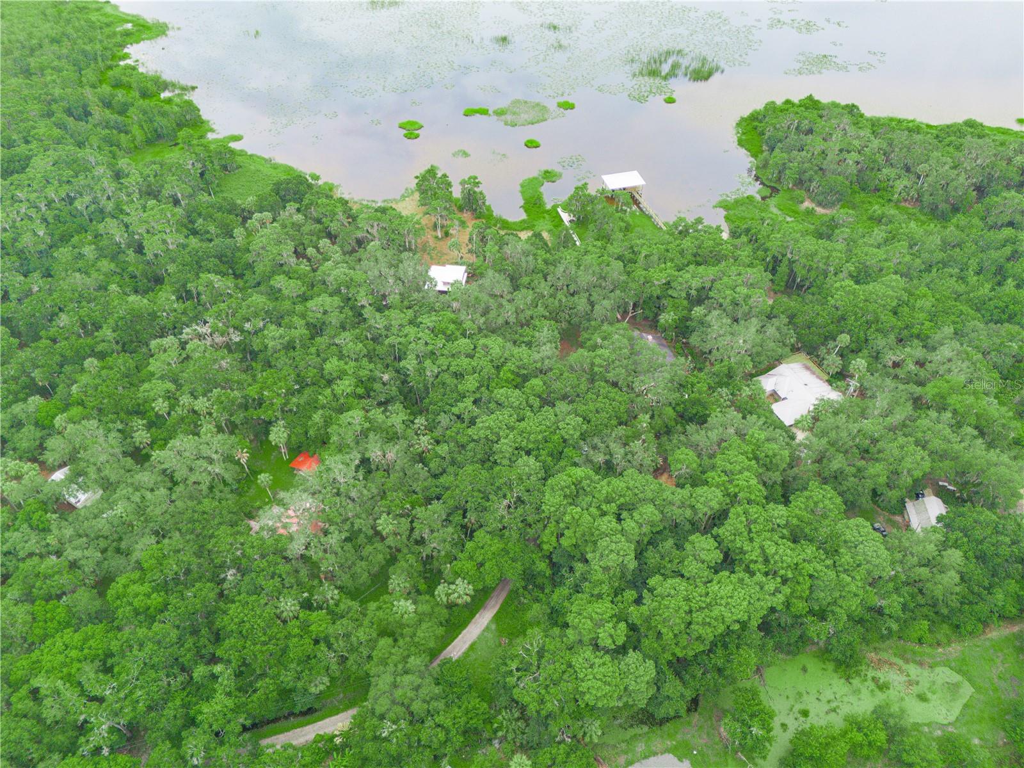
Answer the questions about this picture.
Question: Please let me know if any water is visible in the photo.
Yes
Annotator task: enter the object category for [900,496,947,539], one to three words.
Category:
shed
